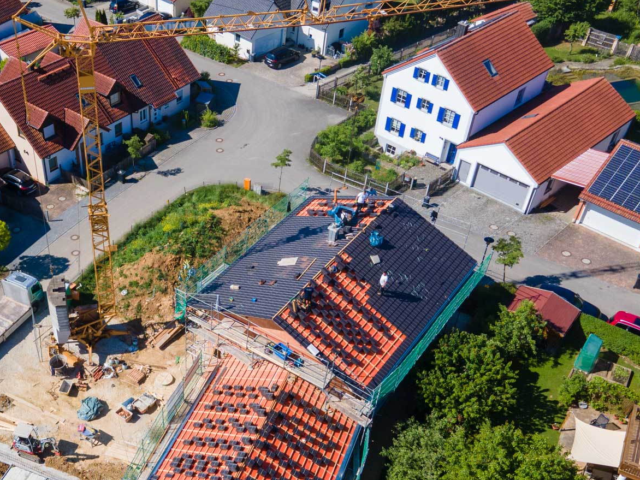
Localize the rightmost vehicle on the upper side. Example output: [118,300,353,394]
[264,47,299,69]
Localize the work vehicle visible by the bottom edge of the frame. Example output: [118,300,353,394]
[12,416,71,460]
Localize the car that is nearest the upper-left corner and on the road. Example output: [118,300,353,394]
[111,0,139,14]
